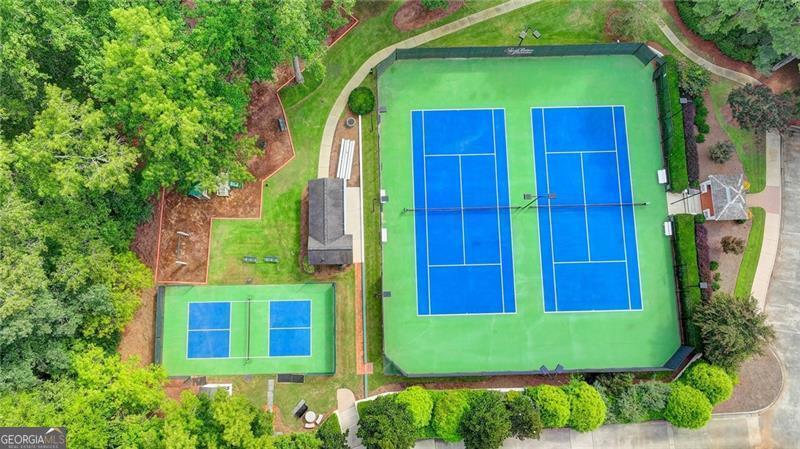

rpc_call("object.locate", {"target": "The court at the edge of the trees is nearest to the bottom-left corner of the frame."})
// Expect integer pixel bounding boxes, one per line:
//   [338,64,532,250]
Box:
[162,283,332,376]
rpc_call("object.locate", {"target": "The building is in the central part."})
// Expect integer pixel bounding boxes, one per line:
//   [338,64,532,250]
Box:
[306,176,353,269]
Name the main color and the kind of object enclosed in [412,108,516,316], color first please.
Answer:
blue tennis court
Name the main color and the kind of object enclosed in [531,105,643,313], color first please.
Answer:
blue tennis court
